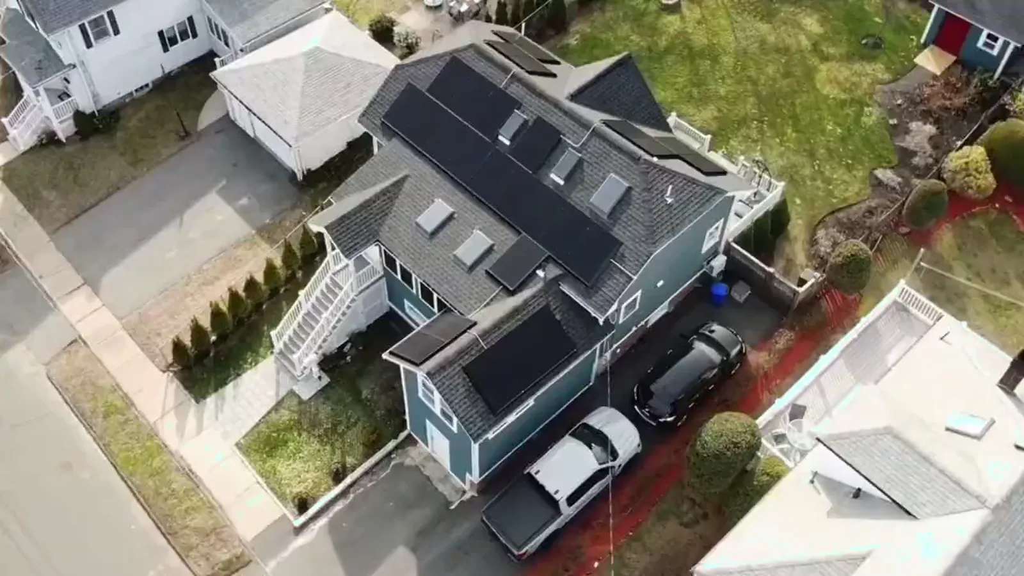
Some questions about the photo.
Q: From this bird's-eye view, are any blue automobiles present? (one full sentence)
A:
No, I find no blue automobile anywhere in the image.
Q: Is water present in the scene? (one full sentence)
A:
No, there is no water in the image.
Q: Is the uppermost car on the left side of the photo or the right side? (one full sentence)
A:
It is on the right.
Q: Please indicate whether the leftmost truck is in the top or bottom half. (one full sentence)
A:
It is in the bottom half that the leftmost truck appears.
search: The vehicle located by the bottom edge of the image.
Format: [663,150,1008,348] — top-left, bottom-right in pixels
[478,410,643,565]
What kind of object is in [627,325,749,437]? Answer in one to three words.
car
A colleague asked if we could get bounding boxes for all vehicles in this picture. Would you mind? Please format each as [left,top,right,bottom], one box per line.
[627,325,749,437]
[478,410,643,565]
